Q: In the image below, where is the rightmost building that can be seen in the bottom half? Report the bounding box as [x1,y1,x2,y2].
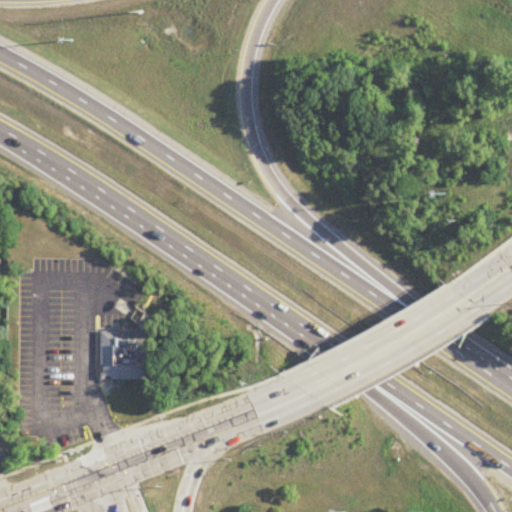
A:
[100,330,146,383]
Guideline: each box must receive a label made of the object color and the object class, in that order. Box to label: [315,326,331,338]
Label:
white vehicle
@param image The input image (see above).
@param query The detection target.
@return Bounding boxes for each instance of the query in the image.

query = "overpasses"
[248,241,512,436]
